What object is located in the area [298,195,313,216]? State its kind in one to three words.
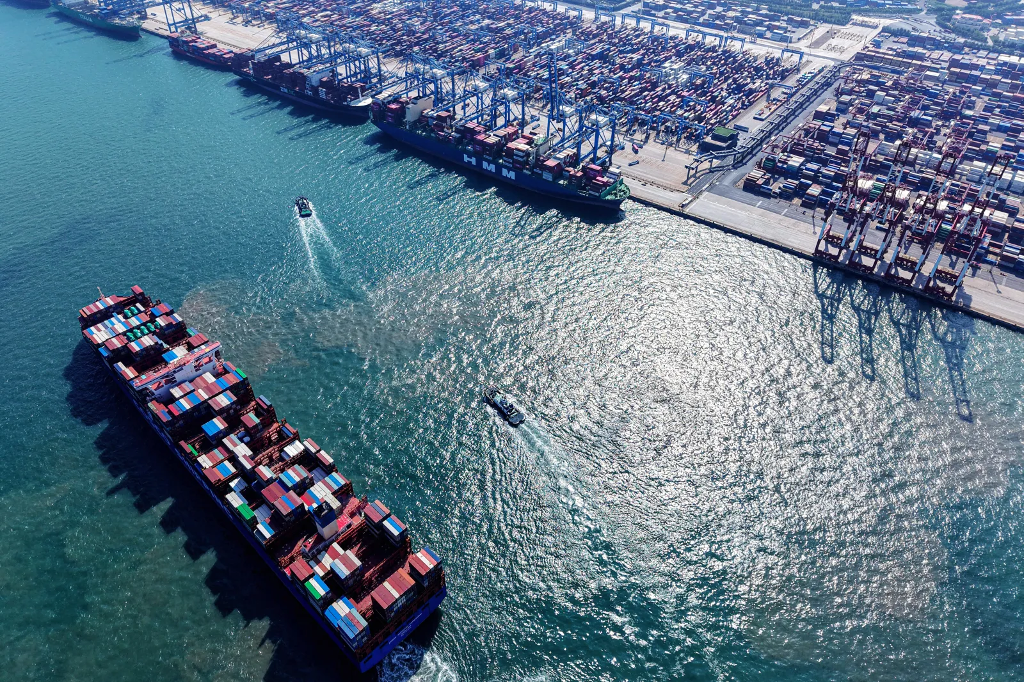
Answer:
boat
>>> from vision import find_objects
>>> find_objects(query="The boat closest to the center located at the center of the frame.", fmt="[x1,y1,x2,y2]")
[489,388,528,422]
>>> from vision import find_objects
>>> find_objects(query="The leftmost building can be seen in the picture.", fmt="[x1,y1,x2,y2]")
[702,124,737,151]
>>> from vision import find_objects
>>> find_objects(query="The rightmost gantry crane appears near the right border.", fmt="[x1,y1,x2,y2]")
[922,174,1002,300]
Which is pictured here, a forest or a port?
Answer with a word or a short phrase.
port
